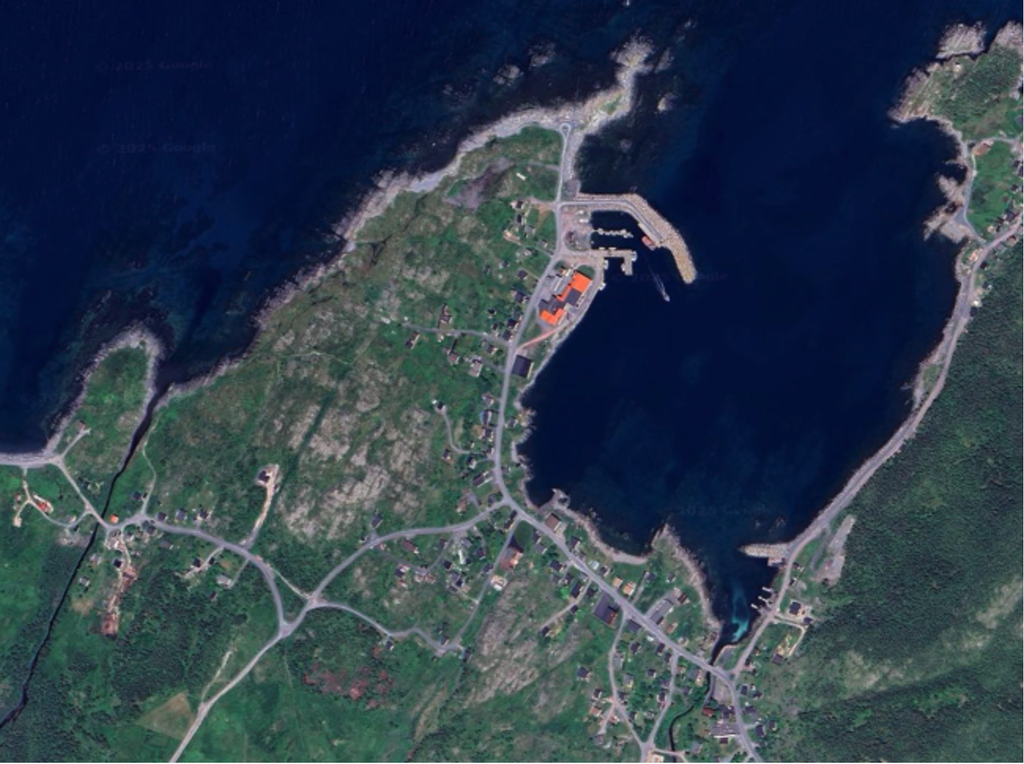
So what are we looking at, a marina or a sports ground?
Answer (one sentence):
This looks like a marina.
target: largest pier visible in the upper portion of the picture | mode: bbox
[588,249,634,276]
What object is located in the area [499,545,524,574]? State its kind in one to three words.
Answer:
building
